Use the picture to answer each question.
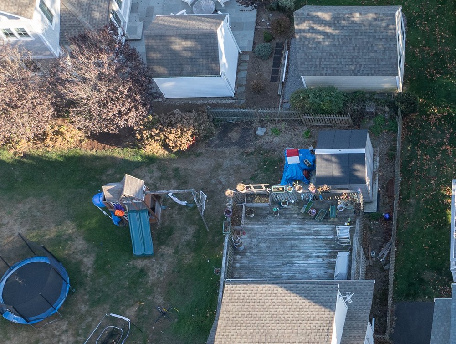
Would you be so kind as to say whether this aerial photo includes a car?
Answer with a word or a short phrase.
No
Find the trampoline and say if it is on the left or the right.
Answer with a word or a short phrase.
left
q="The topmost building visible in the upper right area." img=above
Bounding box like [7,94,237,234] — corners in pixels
[295,0,404,89]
